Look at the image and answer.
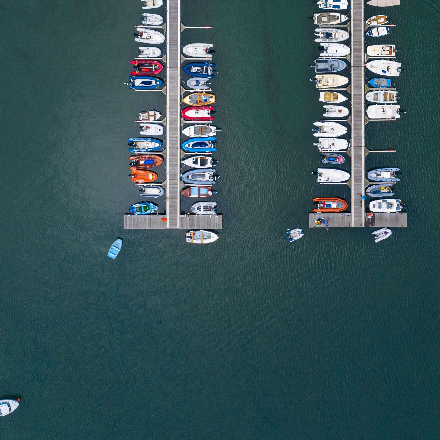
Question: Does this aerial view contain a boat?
Yes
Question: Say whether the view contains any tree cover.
No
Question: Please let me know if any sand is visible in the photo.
No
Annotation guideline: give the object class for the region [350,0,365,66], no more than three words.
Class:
pier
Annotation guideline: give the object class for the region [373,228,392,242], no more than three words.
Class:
boat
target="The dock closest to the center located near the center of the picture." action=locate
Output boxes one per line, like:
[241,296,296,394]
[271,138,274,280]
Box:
[180,214,223,229]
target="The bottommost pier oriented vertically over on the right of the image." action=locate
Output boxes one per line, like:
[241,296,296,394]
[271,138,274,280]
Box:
[351,147,365,227]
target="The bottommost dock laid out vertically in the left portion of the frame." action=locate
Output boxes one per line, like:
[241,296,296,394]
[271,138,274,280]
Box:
[166,148,180,229]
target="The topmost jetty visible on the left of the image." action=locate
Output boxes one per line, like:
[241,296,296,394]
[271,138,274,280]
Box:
[166,0,180,67]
